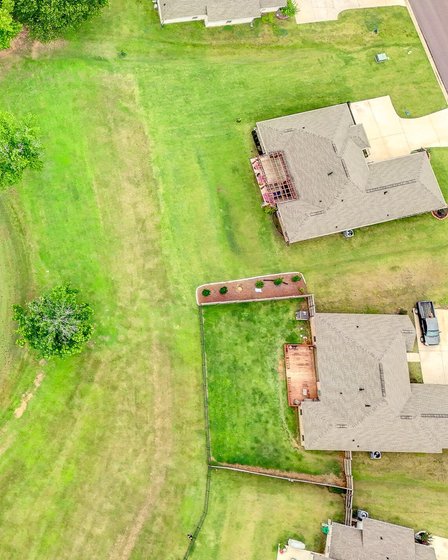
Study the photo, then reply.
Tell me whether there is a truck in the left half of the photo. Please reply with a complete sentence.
No, I can find no truck in the left half of the photo.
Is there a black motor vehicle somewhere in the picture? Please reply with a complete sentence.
No, I can see no black motor vehicle in this picture.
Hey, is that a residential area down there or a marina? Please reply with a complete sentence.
This looks like a residential area.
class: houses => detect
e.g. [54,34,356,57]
[310,515,437,560]
[157,0,286,28]
[298,312,448,453]
[254,103,448,246]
